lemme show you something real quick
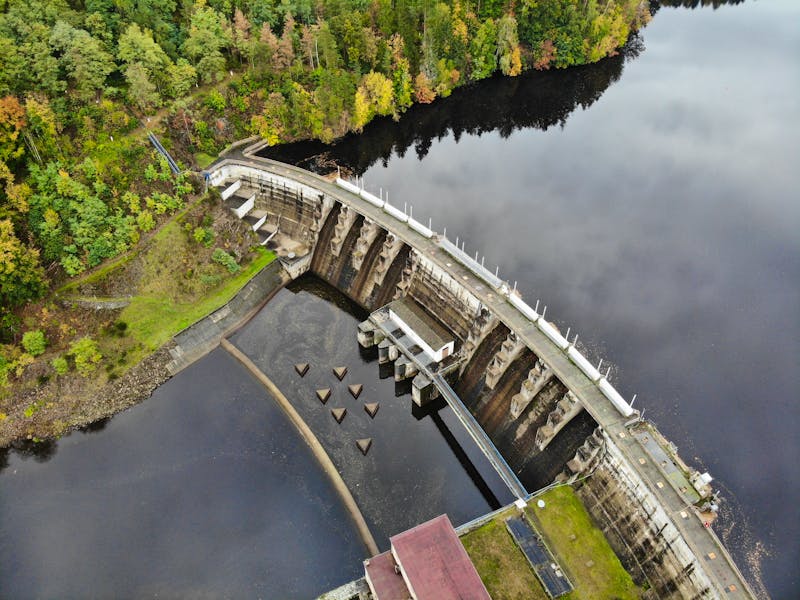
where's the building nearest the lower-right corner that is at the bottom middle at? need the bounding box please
[364,514,494,600]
